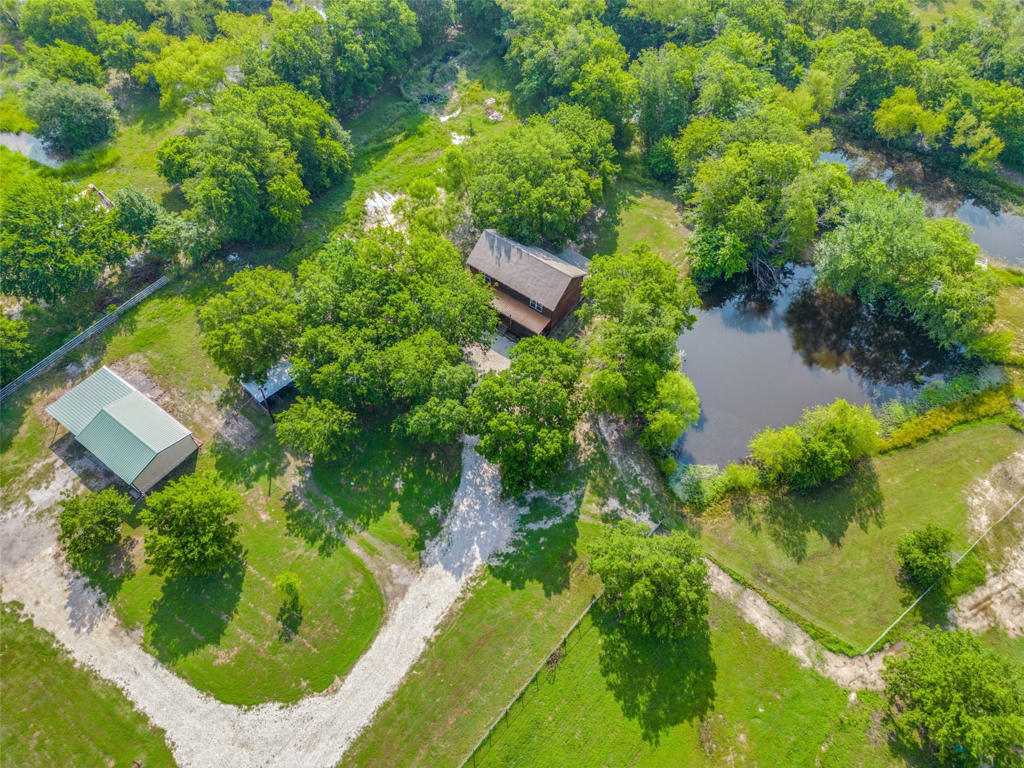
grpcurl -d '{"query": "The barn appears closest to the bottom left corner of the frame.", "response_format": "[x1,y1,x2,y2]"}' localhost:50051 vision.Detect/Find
[44,366,198,496]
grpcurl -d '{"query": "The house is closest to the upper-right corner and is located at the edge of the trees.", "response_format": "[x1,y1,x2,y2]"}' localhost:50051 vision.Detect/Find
[466,230,593,339]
